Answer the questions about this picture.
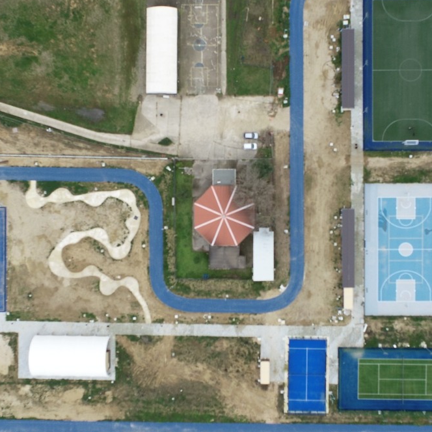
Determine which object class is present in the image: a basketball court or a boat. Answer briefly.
basketball court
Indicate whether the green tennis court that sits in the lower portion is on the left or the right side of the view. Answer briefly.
right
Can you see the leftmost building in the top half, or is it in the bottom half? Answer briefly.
bottom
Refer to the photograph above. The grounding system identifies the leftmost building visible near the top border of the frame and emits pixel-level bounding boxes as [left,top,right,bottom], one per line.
[147,3,180,96]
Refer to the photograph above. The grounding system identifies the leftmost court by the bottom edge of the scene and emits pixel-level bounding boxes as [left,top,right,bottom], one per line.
[285,337,329,414]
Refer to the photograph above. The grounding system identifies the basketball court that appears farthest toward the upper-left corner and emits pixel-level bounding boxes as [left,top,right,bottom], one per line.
[146,0,221,95]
